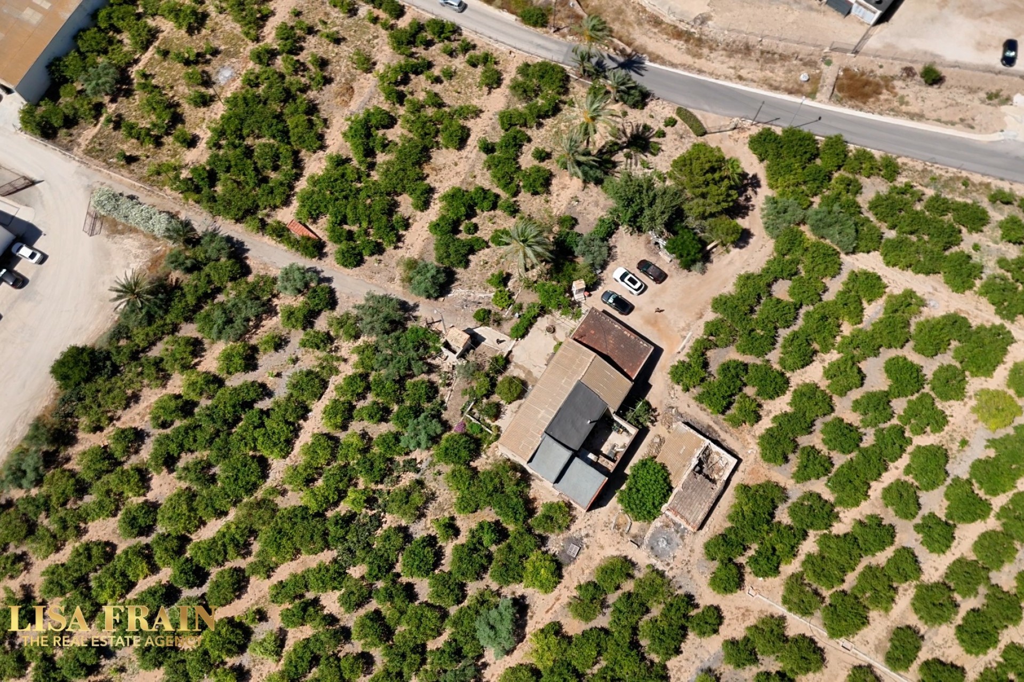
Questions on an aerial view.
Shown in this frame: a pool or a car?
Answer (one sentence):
I can see a car in this picture.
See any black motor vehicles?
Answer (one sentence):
Yes, there is a black motor vehicle in the image.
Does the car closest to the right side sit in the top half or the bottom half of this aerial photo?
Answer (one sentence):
The car closest to the right side is in the top half of the image.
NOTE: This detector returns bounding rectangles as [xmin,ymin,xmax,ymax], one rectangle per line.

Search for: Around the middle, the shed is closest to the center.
[438,325,472,361]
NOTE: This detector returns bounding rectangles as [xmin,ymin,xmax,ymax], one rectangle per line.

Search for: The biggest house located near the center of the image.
[497,307,655,514]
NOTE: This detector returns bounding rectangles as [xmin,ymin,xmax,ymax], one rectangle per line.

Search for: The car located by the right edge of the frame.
[998,39,1018,67]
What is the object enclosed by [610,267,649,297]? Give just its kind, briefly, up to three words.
car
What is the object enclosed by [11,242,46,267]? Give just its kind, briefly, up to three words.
car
